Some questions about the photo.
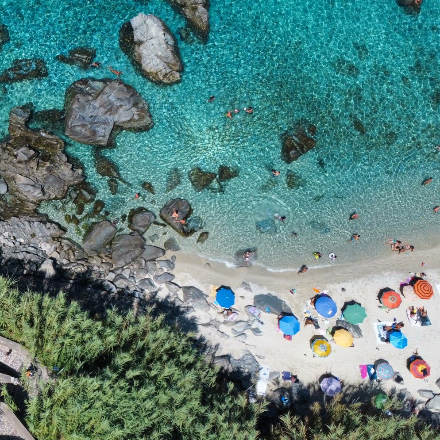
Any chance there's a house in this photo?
No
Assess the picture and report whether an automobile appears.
No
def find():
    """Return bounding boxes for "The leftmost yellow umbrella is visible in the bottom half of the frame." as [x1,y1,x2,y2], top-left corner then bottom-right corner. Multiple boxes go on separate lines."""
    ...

[311,338,329,357]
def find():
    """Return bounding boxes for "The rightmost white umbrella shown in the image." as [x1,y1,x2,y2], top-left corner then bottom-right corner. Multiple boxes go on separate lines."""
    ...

[398,284,416,301]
